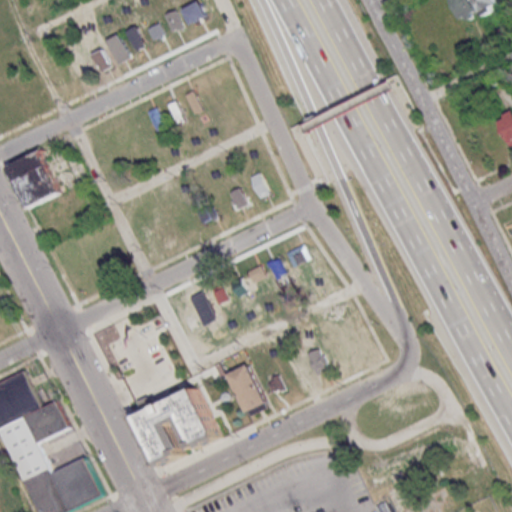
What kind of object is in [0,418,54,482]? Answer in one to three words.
shed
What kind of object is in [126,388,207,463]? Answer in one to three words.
building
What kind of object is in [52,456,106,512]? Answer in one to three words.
building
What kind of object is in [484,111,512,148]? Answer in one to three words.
house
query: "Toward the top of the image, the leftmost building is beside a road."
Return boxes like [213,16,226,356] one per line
[4,147,63,215]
